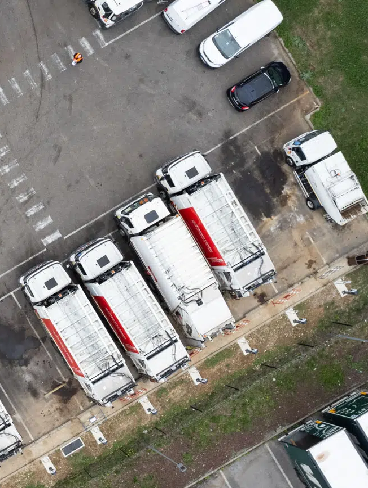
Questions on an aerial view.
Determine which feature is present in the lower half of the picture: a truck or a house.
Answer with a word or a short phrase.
truck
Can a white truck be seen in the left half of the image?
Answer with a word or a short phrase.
Yes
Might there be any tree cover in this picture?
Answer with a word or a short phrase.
No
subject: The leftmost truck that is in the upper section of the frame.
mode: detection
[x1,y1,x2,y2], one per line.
[90,0,148,35]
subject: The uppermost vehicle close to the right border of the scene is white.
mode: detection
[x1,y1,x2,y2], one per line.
[277,121,368,230]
